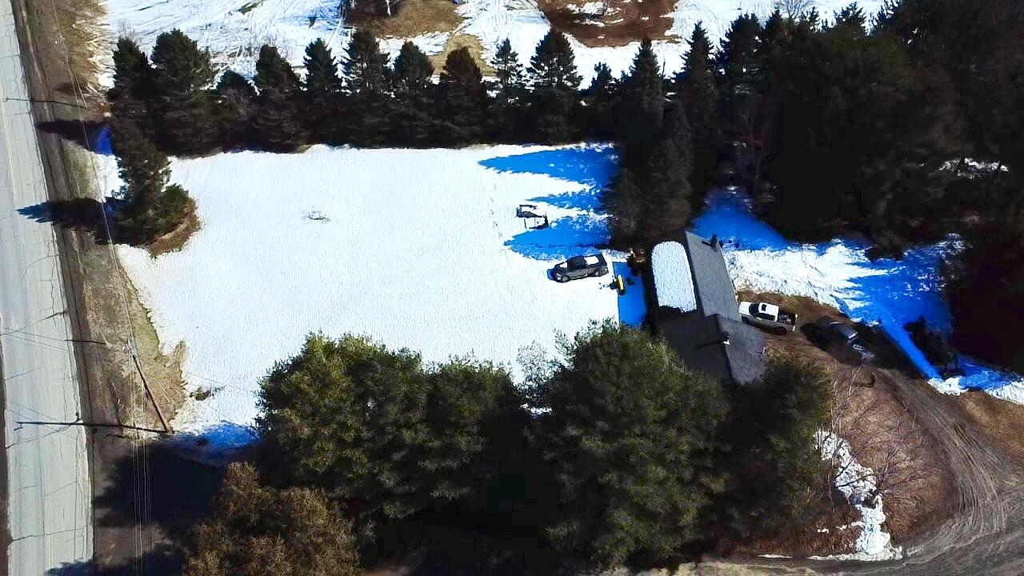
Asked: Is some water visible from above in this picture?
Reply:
No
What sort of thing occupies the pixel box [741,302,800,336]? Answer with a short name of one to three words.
truck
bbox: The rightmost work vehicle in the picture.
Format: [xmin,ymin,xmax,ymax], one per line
[901,306,960,353]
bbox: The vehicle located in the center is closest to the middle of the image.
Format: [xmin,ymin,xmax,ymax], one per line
[551,254,613,279]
